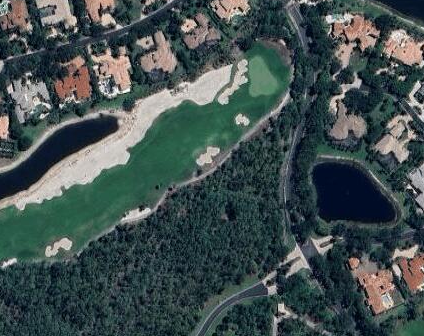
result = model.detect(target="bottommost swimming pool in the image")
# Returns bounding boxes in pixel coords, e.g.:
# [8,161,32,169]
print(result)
[380,292,395,309]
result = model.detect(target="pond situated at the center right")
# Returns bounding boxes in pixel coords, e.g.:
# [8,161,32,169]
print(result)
[314,160,397,223]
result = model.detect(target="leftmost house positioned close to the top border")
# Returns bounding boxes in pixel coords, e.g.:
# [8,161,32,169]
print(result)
[0,0,30,34]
